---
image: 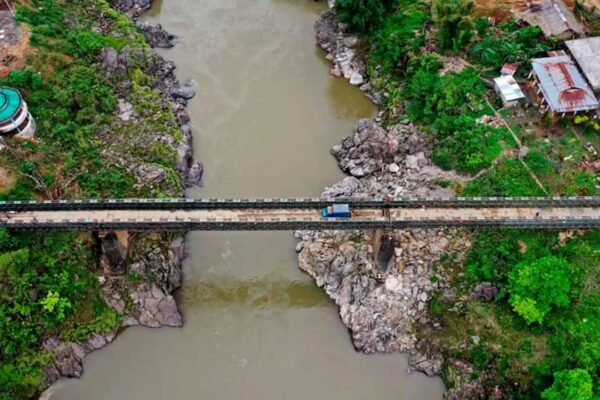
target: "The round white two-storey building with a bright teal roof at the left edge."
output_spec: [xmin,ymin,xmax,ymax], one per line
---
[0,87,35,145]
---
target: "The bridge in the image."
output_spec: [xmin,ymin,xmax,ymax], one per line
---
[0,196,600,273]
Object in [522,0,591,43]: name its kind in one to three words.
house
